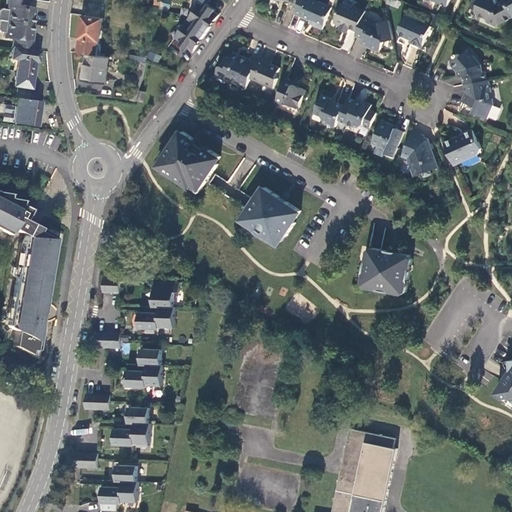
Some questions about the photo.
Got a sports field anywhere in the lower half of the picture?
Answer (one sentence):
Yes, the scene does show a sports field in the lower half of the picture.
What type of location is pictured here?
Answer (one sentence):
It's a residential area.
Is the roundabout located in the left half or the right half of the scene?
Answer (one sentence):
The roundabout sits on the left side.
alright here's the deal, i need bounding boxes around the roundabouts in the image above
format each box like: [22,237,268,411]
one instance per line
[72,144,123,195]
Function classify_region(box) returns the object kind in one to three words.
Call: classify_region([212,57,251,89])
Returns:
house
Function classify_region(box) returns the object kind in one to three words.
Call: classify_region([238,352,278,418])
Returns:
sports court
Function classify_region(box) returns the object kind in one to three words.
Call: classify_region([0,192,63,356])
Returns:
building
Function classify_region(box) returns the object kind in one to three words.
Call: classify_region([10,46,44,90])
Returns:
house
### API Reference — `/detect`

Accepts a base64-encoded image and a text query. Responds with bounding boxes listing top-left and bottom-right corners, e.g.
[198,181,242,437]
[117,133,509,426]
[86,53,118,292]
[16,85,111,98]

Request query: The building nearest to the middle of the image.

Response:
[236,186,302,250]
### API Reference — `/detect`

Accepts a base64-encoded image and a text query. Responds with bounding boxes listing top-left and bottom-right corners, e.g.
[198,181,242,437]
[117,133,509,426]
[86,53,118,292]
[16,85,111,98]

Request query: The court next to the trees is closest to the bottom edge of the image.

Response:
[238,442,301,512]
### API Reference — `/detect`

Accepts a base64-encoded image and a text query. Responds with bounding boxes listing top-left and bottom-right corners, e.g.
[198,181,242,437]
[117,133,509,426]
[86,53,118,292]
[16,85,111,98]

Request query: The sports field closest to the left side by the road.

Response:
[0,392,36,509]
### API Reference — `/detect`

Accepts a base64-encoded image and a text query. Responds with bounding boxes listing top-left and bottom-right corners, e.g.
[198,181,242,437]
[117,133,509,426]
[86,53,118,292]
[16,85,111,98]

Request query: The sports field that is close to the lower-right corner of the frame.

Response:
[402,442,512,512]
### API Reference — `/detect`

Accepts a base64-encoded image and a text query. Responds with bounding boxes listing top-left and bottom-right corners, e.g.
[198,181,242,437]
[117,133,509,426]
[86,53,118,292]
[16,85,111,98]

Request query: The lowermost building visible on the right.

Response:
[331,430,398,512]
